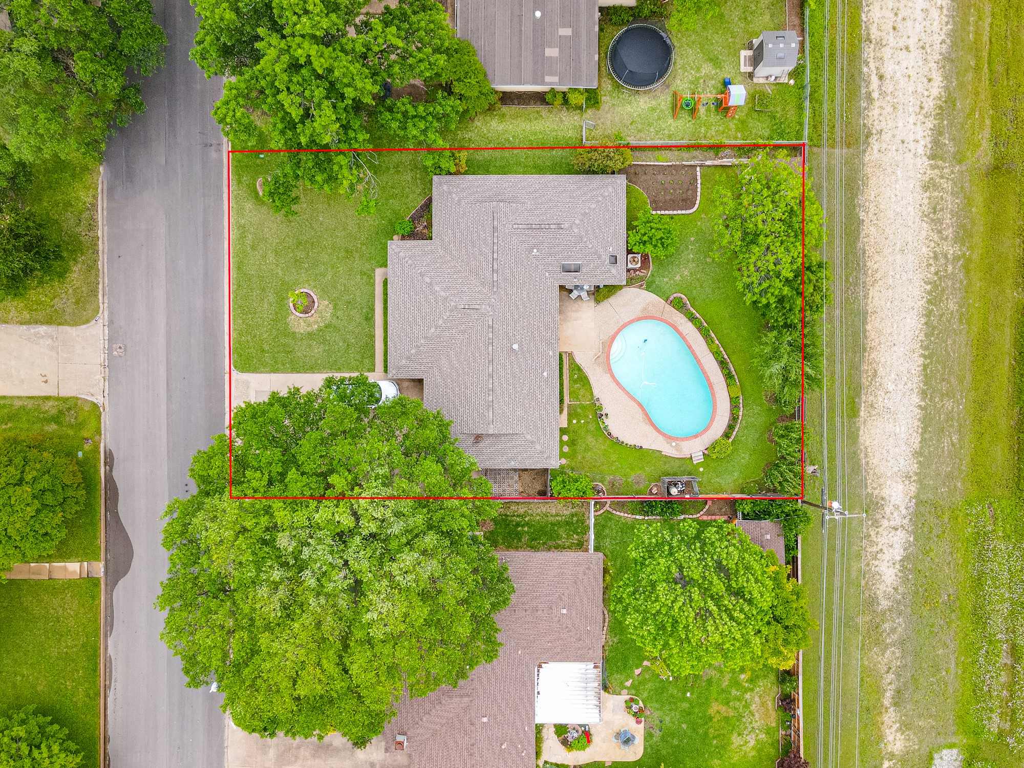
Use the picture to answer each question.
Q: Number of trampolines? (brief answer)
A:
1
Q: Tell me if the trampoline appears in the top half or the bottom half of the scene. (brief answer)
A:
top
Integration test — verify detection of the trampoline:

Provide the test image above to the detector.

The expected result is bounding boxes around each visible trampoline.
[607,18,674,94]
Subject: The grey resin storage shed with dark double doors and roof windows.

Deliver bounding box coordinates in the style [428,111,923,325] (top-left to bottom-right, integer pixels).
[753,31,803,77]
